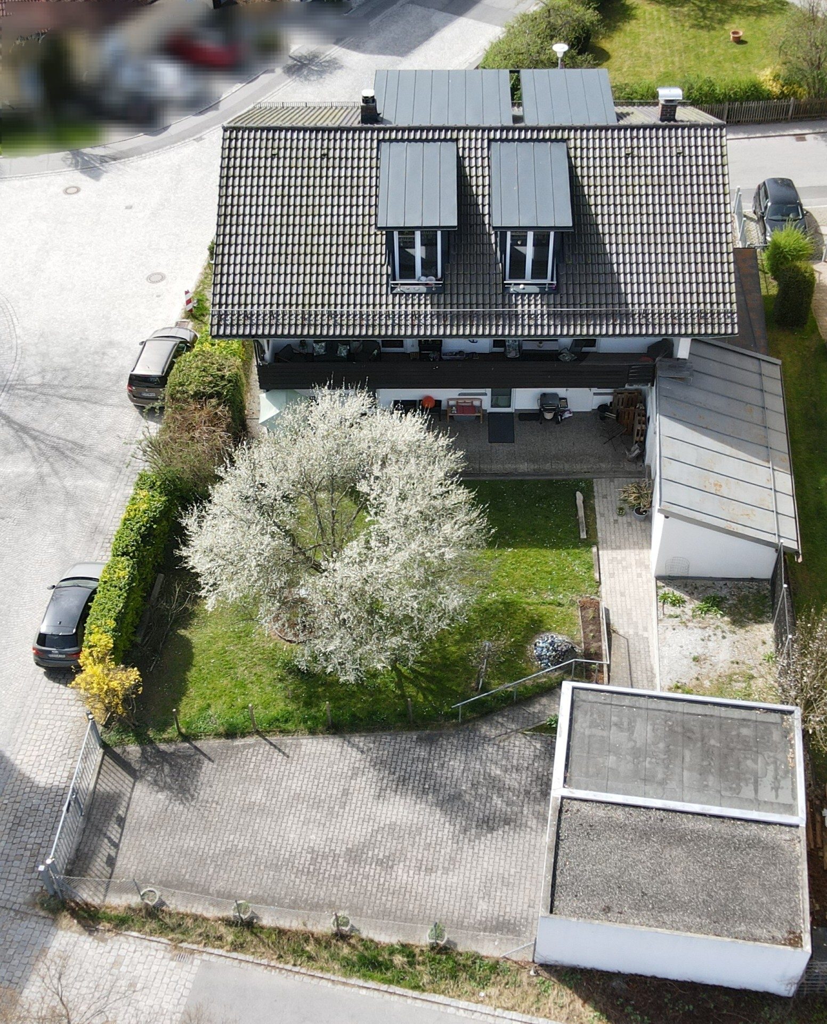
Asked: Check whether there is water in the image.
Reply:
No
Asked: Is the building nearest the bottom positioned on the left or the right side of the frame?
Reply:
right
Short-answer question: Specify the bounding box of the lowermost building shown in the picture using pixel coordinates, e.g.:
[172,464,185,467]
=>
[535,794,812,1000]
